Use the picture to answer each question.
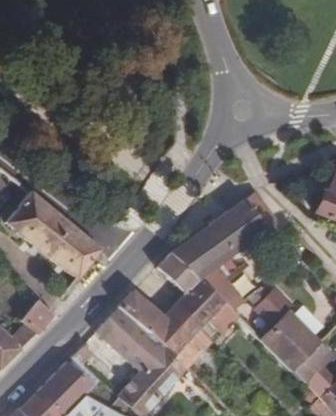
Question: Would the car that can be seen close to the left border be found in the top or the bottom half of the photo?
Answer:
bottom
